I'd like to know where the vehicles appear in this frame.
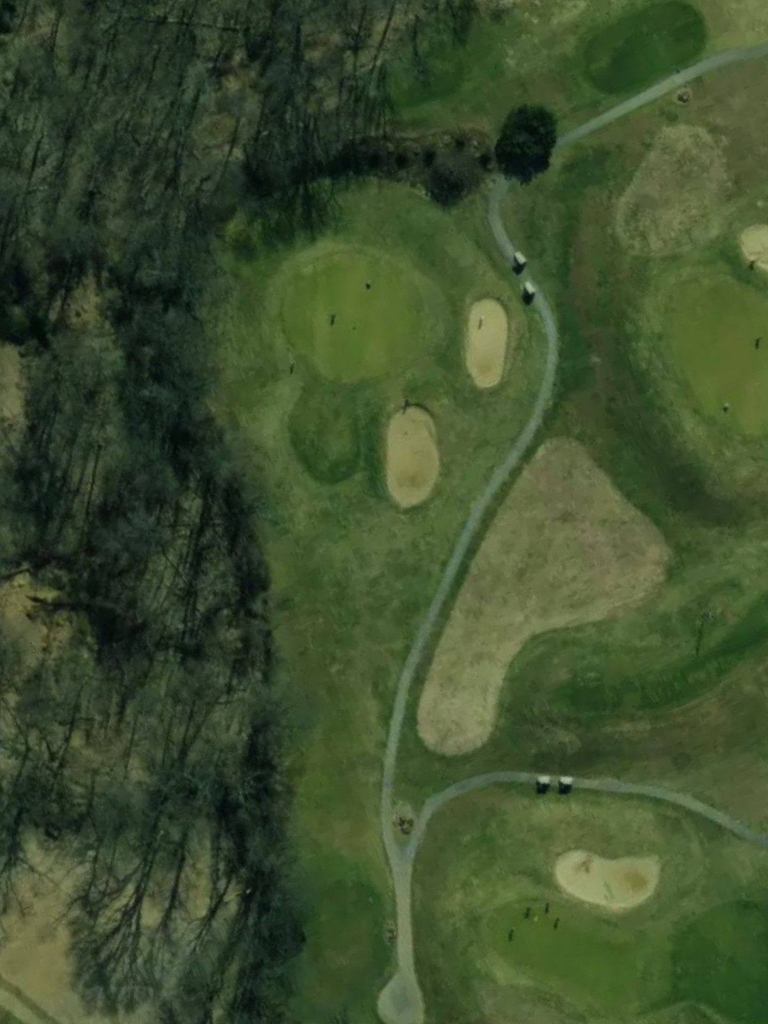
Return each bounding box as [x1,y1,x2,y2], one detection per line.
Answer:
[522,282,536,299]
[559,778,575,786]
[537,777,552,785]
[512,249,526,265]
